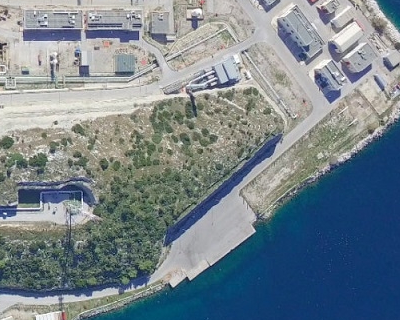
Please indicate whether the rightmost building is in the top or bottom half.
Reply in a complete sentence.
The top half of the photo is where the rightmost building is.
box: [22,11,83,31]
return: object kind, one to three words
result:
building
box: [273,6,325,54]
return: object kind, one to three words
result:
building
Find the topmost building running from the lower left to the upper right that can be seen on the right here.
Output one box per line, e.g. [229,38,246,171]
[327,7,356,31]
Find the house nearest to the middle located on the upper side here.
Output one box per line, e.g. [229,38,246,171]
[188,57,242,96]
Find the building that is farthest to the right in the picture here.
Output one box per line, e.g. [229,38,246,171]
[379,47,400,70]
